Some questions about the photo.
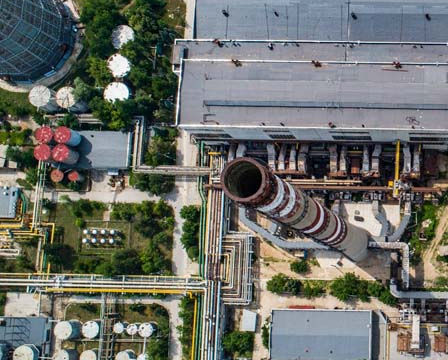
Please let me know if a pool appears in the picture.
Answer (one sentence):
No, the frame has no pool in it.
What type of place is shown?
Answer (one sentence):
This looks like an industrial area.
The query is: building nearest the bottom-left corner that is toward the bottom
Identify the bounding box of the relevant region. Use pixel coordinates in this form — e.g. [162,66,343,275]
[0,315,56,346]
